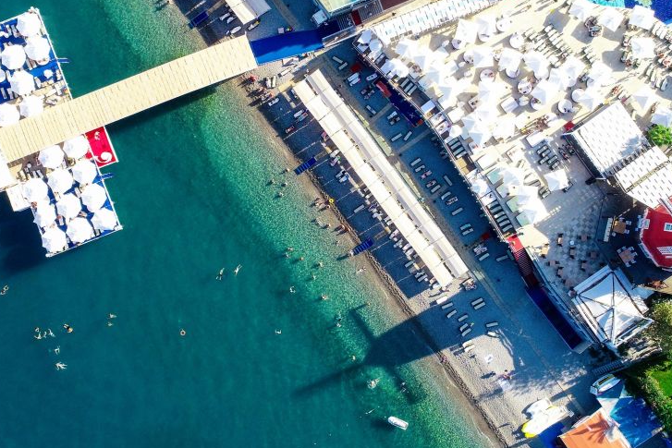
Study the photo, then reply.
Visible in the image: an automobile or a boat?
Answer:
boat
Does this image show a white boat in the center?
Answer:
No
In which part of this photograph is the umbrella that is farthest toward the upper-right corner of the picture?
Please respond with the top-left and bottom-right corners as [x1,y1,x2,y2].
[627,4,654,32]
